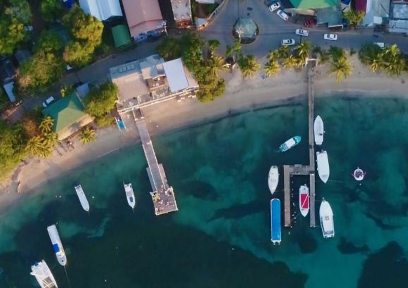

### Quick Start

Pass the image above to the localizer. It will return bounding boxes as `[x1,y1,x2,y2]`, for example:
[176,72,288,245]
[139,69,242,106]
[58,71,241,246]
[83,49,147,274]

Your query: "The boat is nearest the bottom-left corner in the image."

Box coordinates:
[29,261,57,288]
